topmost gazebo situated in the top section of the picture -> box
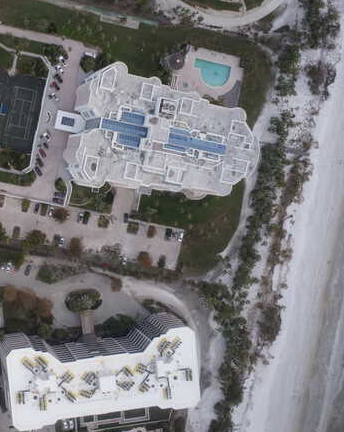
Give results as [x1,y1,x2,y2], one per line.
[169,54,184,67]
